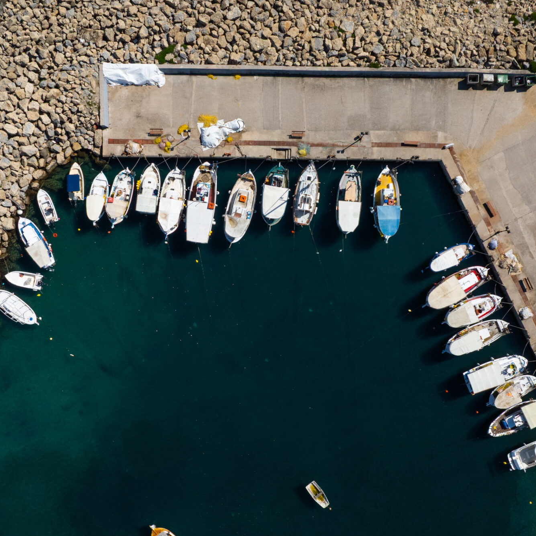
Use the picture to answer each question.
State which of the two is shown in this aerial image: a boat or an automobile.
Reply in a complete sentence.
It is a boat that can be seen here.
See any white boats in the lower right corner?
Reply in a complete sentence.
Yes, I can see a white boat in the lower right corner.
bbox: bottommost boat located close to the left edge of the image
[0,289,41,325]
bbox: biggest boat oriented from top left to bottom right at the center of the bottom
[306,482,328,508]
